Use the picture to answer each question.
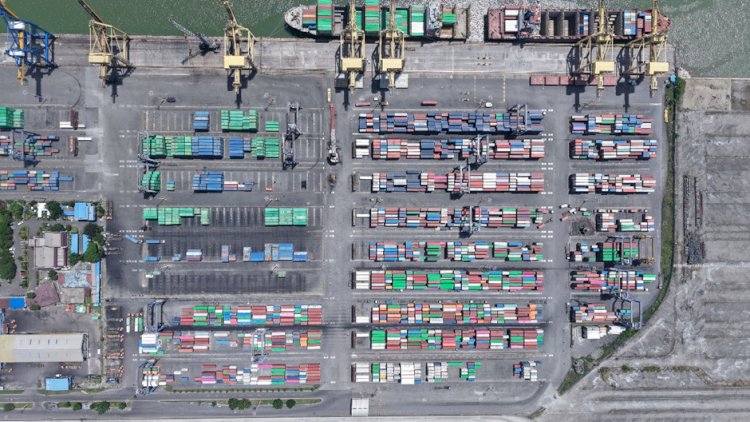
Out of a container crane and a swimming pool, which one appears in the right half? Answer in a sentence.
What appears in the right half is a container crane.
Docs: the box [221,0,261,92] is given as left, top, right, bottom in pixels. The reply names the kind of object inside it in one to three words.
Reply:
container crane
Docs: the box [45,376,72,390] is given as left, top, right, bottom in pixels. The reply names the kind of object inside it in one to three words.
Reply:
shed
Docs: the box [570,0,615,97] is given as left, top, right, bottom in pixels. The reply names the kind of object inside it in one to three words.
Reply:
container crane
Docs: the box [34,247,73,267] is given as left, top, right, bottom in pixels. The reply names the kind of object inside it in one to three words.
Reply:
building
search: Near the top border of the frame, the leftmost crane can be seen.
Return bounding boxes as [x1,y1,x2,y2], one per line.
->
[0,1,59,88]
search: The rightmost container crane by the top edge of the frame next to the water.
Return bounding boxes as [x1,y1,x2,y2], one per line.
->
[620,0,669,98]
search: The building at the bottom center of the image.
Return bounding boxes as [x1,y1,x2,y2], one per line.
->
[351,396,368,416]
